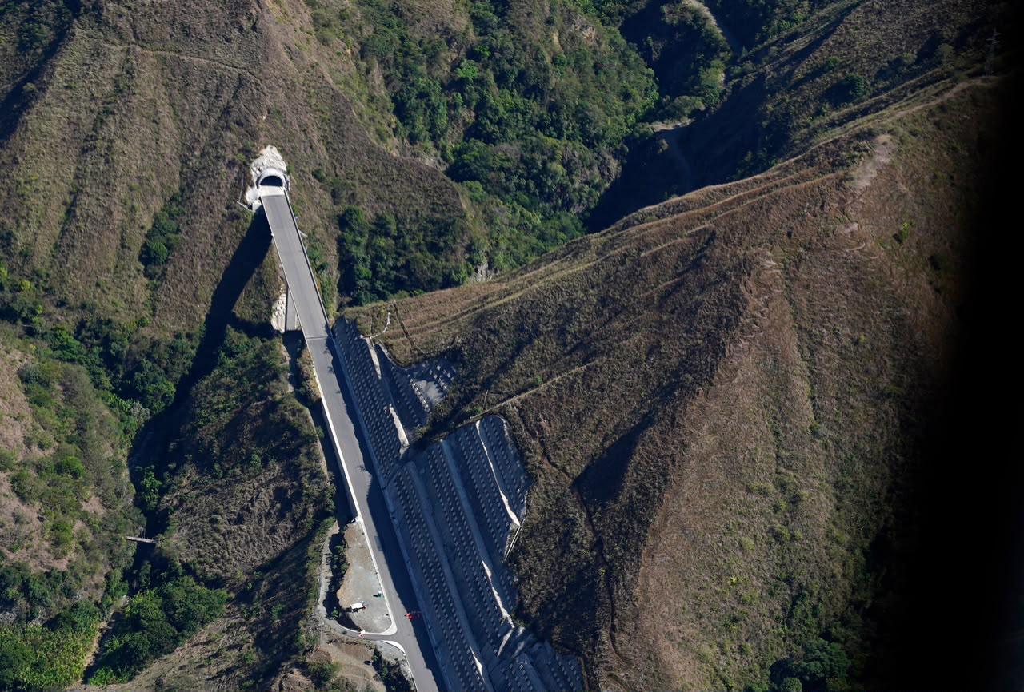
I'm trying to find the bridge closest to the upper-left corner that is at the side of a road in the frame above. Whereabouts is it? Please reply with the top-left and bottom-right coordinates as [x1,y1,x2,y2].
[260,194,335,363]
